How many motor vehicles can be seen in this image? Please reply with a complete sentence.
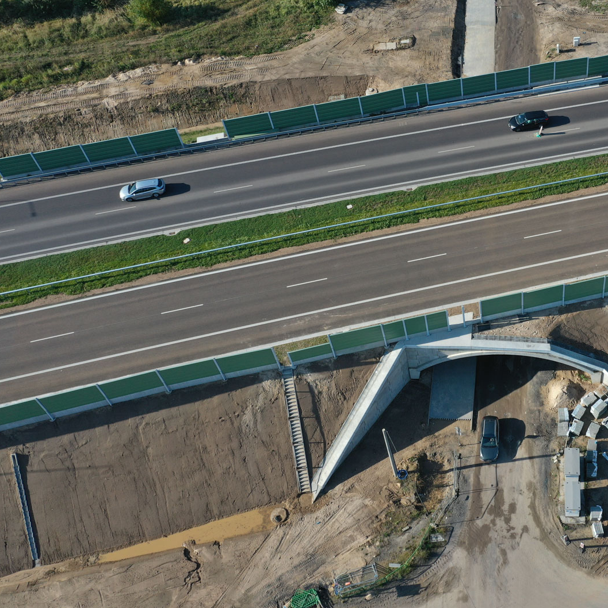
In total, there are 3 motor vehicles in the scene.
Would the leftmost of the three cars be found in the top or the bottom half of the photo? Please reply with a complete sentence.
The leftmost of the three cars sits in the top half of the picture.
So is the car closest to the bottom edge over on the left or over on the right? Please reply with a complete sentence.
You can find the car closest to the bottom edge on the right side of the picture.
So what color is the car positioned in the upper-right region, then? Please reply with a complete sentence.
From above, the car positioned in the upper-right region appears black.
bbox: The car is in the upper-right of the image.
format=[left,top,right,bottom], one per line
[507,107,551,130]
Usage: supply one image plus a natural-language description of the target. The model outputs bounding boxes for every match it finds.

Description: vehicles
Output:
[119,176,165,202]
[507,107,551,130]
[476,418,502,467]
